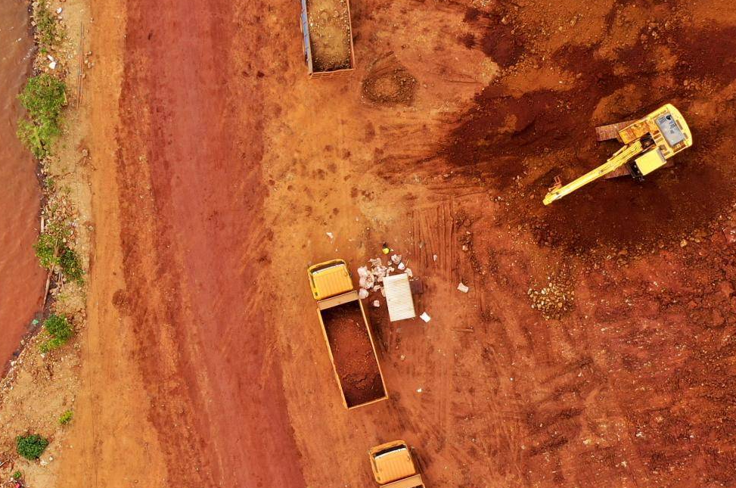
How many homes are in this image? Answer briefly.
0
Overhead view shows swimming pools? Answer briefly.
No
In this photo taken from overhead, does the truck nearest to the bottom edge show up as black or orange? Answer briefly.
orange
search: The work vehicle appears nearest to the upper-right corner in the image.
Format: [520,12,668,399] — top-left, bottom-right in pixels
[538,104,691,203]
